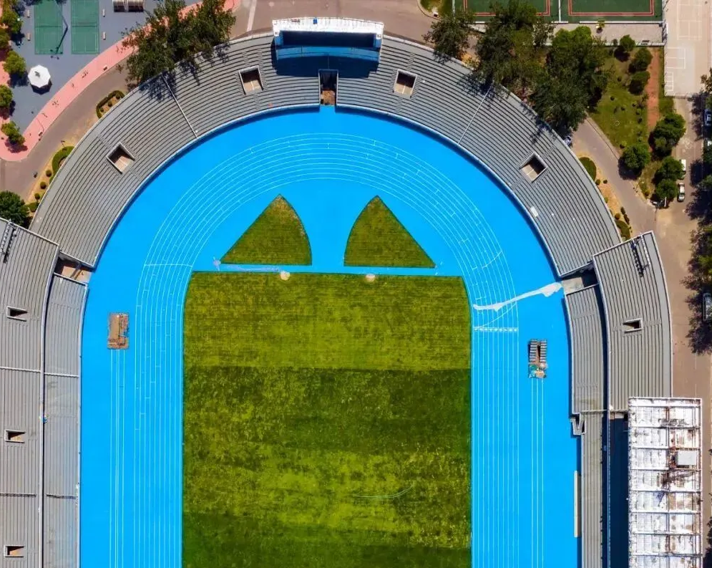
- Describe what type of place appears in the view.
sports ground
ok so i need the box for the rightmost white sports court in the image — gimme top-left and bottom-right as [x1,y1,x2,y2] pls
[665,0,712,96]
